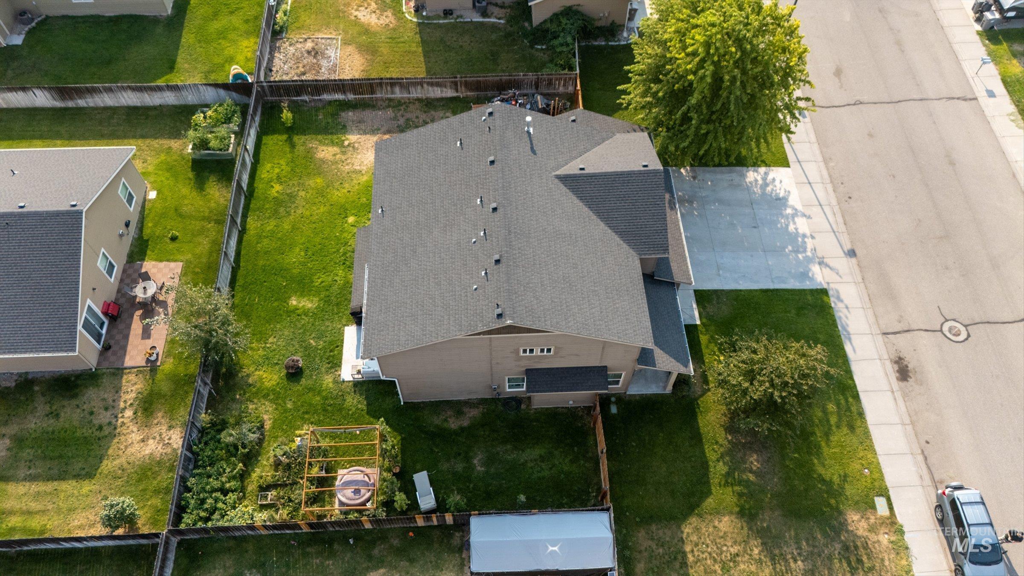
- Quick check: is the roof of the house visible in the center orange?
No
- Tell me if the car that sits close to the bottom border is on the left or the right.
right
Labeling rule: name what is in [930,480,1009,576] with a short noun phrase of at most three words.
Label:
car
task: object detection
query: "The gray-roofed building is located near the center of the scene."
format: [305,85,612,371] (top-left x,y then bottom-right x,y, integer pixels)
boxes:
[350,101,695,408]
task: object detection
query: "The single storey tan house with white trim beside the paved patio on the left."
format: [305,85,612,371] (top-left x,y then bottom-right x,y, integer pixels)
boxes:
[0,147,146,373]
